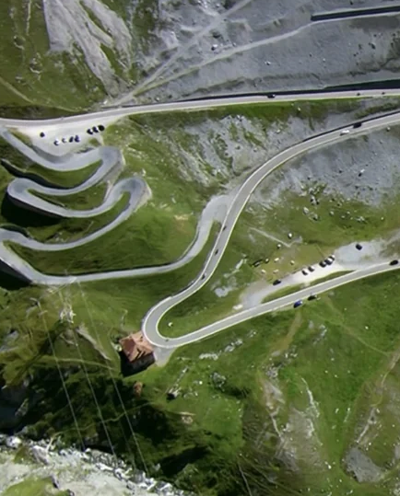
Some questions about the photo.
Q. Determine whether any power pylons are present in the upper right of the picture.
No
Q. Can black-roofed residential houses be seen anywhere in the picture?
No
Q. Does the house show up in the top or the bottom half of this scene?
bottom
